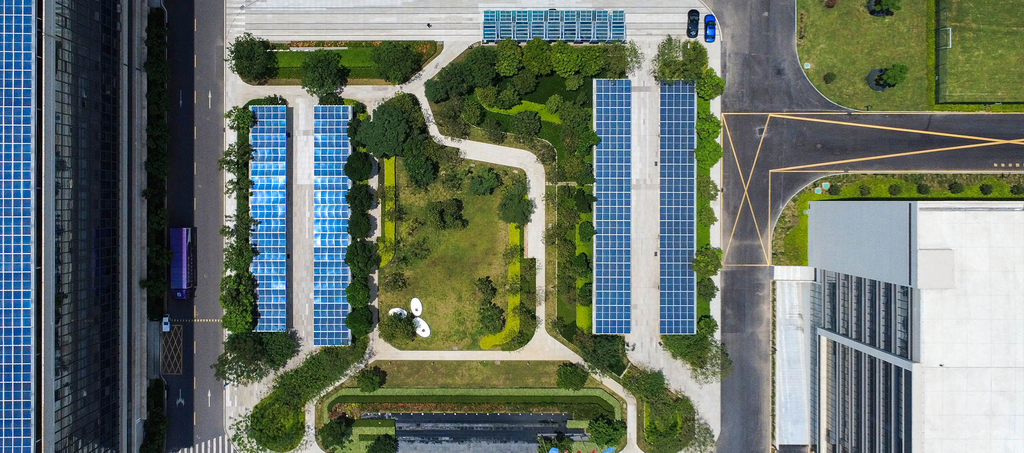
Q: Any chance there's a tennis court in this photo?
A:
No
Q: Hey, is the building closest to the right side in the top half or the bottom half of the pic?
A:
bottom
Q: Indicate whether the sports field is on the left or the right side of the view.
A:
right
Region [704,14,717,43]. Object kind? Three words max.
vehicle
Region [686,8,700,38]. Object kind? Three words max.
car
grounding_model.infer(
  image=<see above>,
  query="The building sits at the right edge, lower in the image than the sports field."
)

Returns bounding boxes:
[806,200,1024,453]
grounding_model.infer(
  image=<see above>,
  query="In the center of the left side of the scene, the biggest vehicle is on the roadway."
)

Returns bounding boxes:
[170,227,194,299]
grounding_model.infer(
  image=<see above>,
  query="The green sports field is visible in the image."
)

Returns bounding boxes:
[948,0,1024,100]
